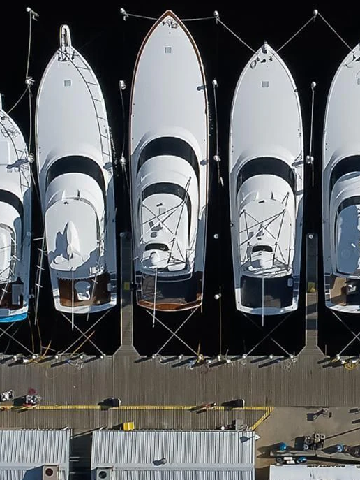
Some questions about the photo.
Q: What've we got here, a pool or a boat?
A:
boat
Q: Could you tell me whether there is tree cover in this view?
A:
No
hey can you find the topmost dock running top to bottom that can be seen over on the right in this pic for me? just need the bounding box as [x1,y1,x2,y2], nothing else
[296,232,328,355]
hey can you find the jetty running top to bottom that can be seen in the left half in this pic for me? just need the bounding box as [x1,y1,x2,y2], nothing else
[110,232,145,355]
